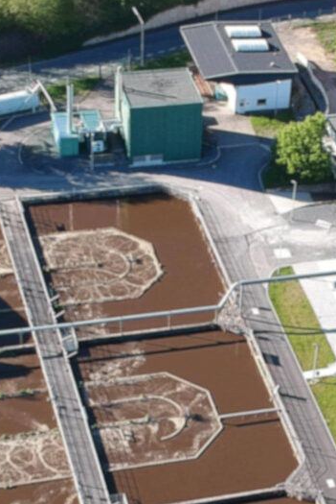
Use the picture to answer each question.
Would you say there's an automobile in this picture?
No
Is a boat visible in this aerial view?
No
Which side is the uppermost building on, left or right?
right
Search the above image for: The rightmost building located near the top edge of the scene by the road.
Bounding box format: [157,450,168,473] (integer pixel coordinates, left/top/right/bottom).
[180,21,298,108]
